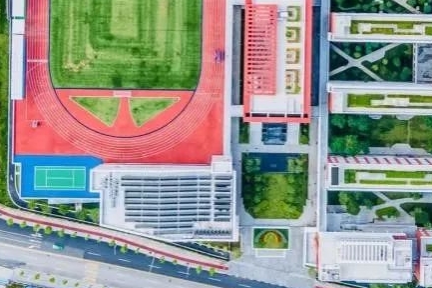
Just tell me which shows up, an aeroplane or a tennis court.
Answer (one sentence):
Of the two, only a tennis court appears.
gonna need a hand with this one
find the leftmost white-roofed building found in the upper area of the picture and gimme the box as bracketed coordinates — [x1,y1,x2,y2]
[243,0,313,122]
